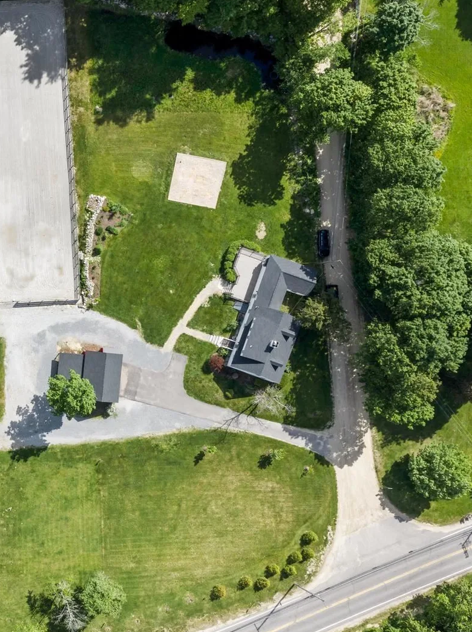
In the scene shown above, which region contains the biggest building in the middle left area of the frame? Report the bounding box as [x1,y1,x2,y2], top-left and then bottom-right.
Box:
[81,346,123,403]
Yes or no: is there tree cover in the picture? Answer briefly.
Yes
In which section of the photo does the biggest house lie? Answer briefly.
center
